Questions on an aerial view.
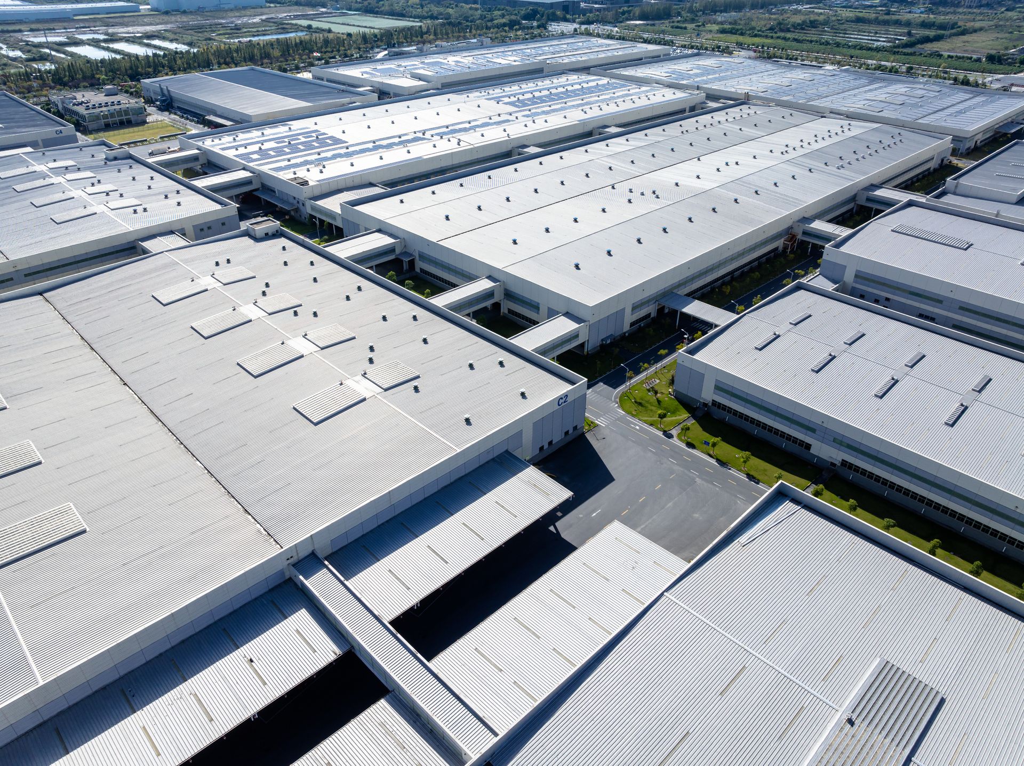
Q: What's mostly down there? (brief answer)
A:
buildings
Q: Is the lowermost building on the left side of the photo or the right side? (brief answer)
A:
right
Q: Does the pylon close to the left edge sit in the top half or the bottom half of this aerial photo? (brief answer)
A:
top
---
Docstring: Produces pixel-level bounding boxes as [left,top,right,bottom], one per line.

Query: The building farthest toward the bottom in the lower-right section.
[472,483,1024,766]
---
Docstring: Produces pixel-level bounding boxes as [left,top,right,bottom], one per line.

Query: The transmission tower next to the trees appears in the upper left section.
[29,0,54,59]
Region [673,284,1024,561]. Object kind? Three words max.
building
